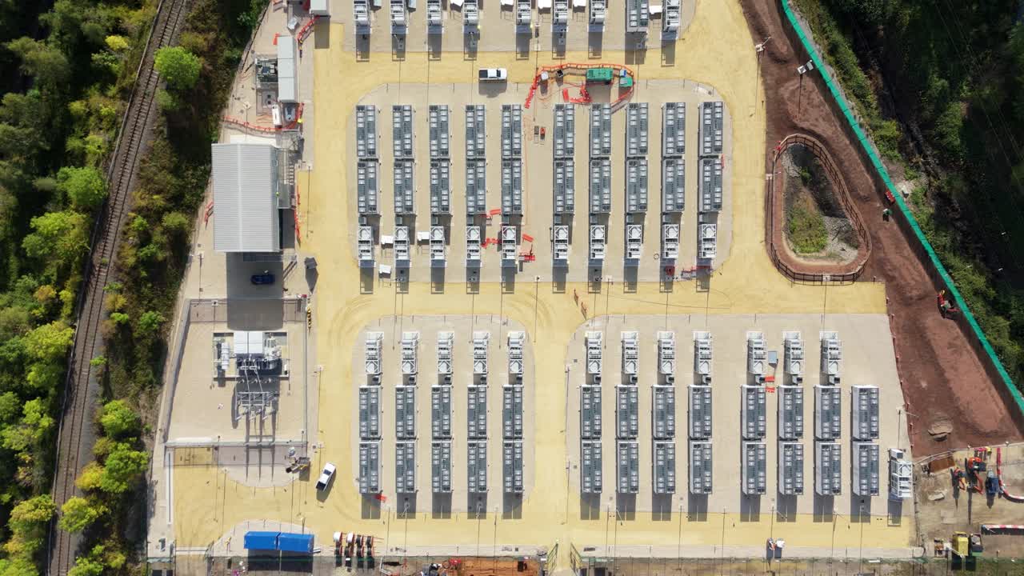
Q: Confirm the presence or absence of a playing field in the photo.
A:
No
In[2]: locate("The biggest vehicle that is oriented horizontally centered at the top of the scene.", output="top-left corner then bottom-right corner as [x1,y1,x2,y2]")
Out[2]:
[478,66,508,80]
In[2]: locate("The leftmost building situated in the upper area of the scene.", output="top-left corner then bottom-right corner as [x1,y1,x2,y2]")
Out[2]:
[211,143,283,252]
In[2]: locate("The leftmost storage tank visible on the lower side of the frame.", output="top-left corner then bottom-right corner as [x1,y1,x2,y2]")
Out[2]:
[243,333,283,370]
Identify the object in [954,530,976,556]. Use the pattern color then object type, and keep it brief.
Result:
yellow work vehicle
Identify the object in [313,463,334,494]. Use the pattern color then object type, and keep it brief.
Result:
white truck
